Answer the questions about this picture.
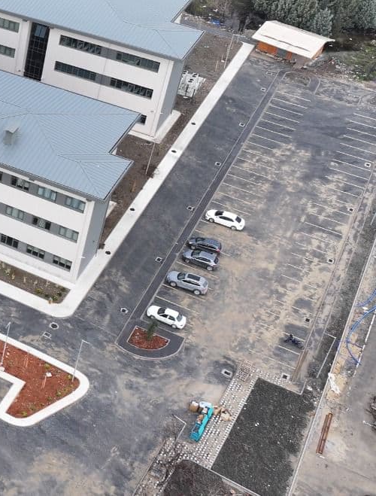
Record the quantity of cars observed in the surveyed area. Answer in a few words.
5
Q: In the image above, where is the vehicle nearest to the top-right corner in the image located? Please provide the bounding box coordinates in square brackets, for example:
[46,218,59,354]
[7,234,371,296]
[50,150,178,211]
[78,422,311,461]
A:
[204,210,246,232]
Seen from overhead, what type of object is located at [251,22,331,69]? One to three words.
shed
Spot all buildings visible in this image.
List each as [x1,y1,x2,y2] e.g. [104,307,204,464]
[251,22,331,69]
[0,0,206,282]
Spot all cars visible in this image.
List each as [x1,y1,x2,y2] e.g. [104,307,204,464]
[166,272,209,297]
[143,304,189,331]
[204,210,246,232]
[182,234,226,257]
[180,249,219,272]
